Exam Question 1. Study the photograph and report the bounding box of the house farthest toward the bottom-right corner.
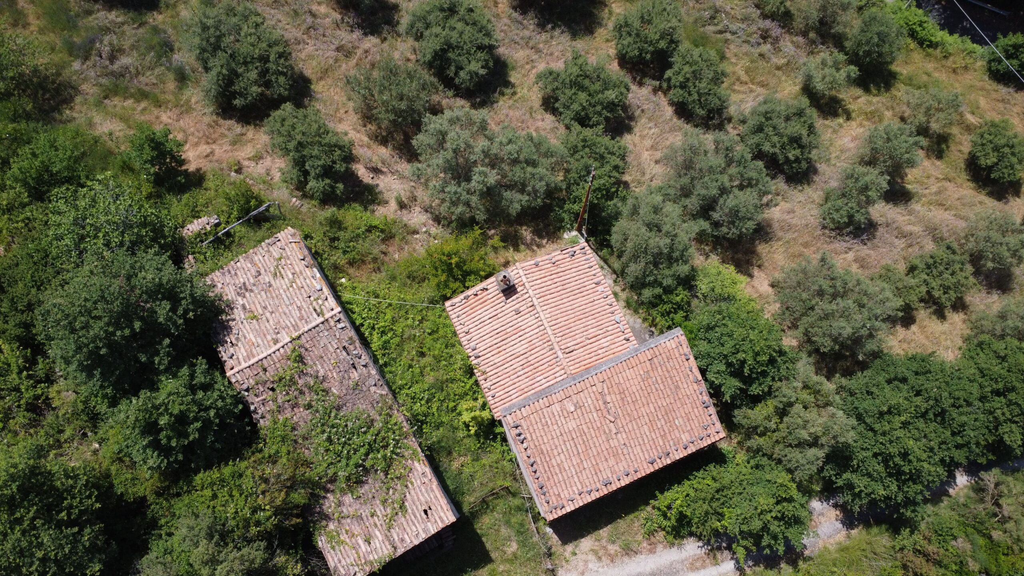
[442,240,728,525]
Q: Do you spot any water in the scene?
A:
No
